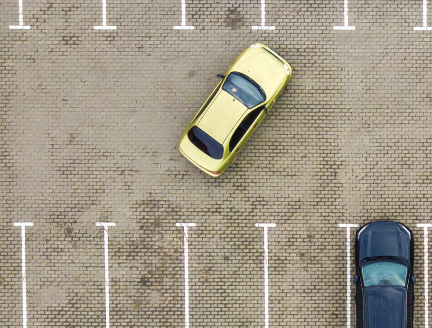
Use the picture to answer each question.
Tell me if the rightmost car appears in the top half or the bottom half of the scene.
bottom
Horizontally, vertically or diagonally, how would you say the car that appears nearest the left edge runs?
diagonally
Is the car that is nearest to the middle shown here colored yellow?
Yes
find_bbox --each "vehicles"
[351,220,419,328]
[177,42,292,176]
